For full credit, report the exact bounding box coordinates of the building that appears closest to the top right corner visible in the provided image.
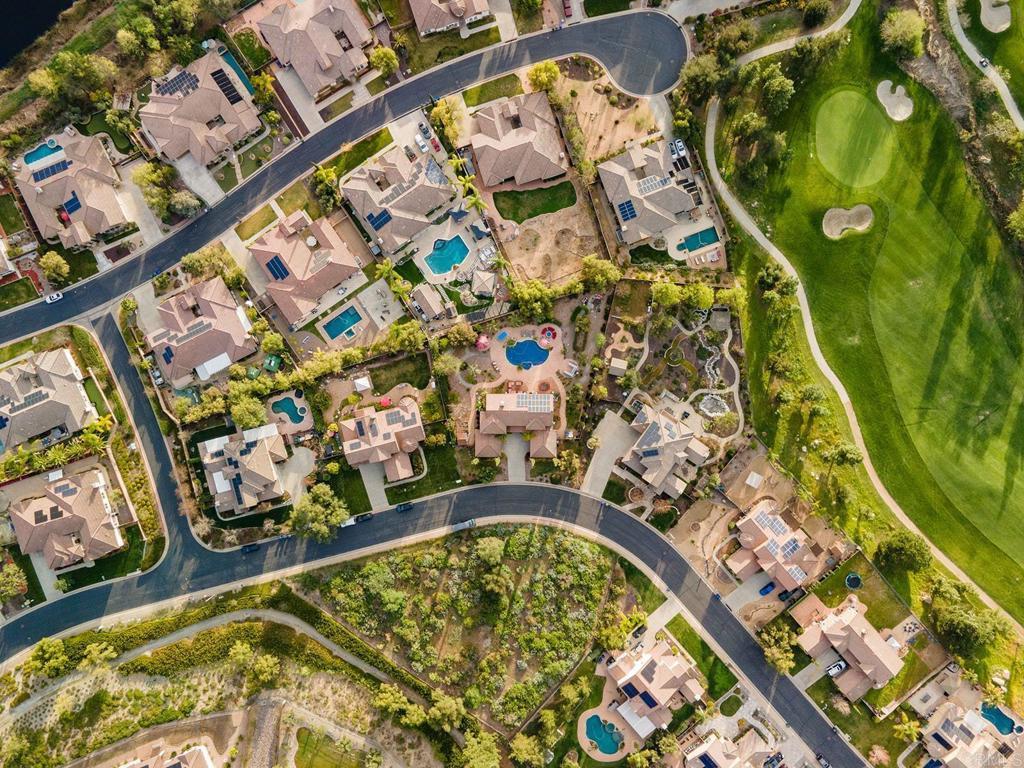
[595,140,696,245]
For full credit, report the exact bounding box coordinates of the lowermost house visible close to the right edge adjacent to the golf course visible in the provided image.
[916,698,1023,768]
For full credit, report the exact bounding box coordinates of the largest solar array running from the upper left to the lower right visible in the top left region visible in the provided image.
[211,71,240,103]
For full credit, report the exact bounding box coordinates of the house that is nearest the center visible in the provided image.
[475,394,557,457]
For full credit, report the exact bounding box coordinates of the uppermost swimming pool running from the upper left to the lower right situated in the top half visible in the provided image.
[216,44,253,96]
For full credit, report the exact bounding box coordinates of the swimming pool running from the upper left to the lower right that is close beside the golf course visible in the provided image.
[981,702,1024,737]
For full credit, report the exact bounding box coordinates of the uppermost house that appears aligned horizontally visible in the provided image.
[409,0,489,37]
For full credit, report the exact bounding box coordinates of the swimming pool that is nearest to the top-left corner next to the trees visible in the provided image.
[21,137,62,169]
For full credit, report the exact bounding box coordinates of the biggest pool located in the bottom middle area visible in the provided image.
[584,715,623,757]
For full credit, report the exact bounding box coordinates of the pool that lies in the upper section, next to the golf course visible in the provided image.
[676,225,721,253]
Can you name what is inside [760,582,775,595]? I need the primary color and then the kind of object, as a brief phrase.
blue vehicle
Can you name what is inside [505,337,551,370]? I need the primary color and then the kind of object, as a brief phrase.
blue swimming pool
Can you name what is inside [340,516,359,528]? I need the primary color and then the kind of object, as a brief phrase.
white vehicle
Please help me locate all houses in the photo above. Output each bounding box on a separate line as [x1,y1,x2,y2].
[621,404,711,502]
[916,698,1023,768]
[409,0,489,37]
[340,138,455,255]
[794,605,906,704]
[595,140,696,245]
[470,92,567,187]
[9,469,127,572]
[687,724,775,768]
[126,739,218,768]
[0,348,103,470]
[725,500,824,597]
[475,394,557,457]
[146,277,258,383]
[340,395,425,479]
[137,52,263,169]
[609,358,627,377]
[608,636,706,739]
[256,0,374,103]
[247,210,359,324]
[198,423,288,514]
[14,134,133,247]
[412,283,456,320]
